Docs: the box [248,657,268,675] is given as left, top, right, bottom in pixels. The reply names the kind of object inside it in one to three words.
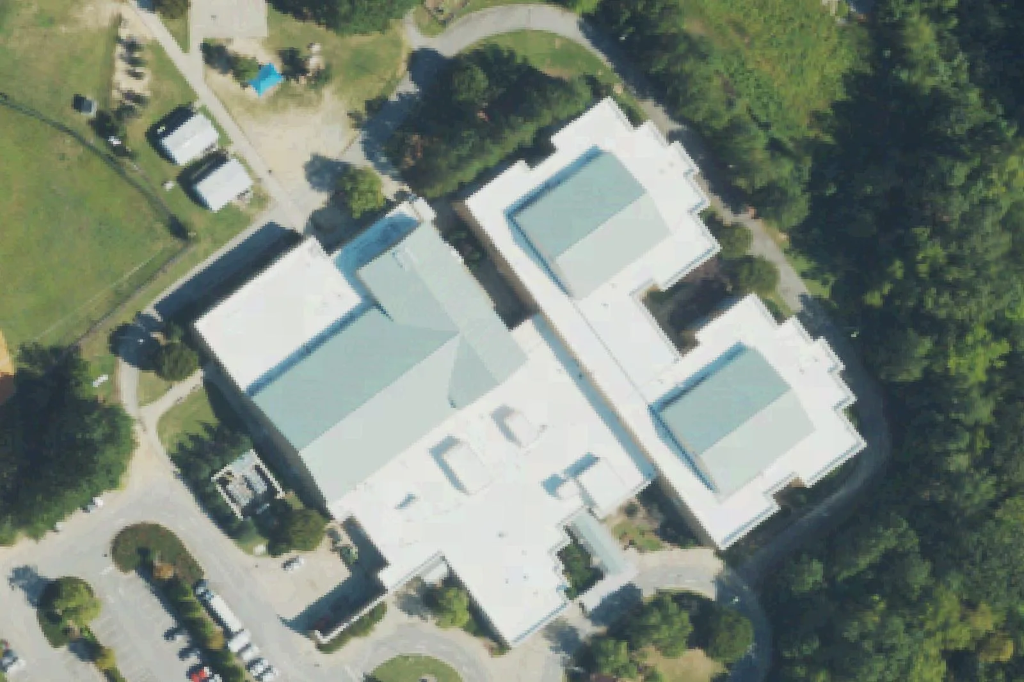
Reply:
car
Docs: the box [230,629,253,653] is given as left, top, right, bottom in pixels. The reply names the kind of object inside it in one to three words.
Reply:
vehicle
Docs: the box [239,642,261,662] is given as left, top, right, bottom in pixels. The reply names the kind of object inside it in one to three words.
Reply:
car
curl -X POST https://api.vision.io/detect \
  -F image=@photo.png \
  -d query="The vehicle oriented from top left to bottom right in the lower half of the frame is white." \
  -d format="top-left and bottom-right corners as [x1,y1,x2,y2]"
[205,589,246,633]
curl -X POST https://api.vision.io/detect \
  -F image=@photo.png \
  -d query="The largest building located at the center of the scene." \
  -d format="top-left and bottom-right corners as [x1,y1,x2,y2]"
[184,94,867,646]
